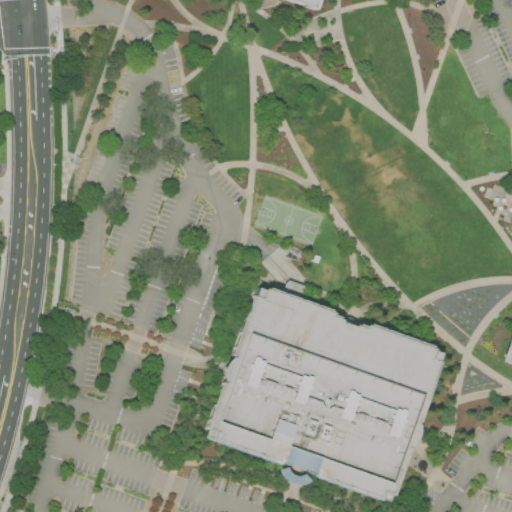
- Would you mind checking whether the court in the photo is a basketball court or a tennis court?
basketball court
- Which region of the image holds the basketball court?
center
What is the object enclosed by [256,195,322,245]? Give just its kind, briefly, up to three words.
basketball court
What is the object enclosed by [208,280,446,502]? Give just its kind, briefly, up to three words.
building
